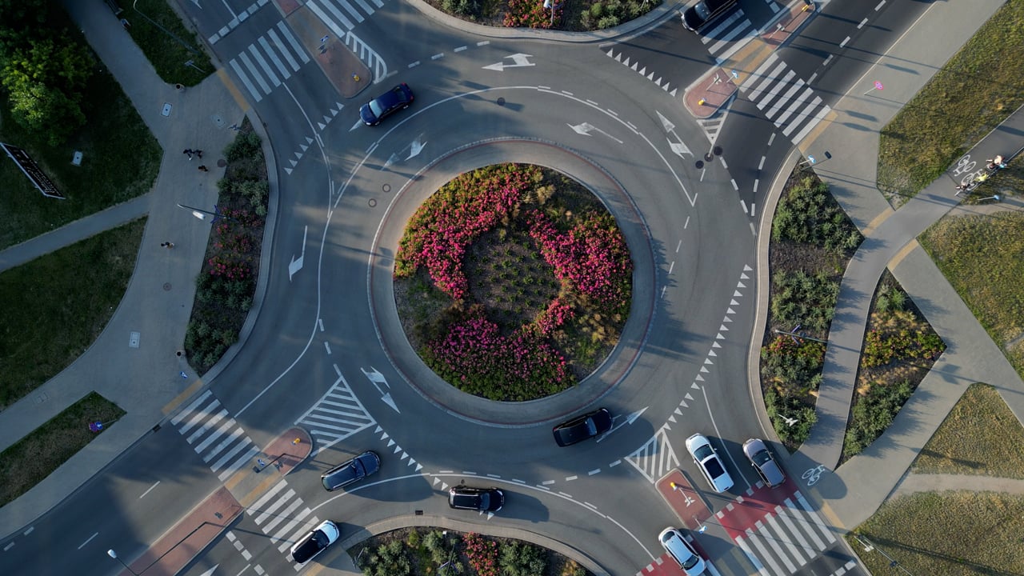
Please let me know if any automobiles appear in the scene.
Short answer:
Yes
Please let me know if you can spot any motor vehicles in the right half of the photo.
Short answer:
Yes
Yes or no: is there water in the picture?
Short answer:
No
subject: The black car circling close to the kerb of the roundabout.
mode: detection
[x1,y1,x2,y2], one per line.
[552,409,614,448]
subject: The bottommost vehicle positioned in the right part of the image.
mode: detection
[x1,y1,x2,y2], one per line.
[657,524,706,576]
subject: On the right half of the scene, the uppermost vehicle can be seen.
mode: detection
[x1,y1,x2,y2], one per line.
[683,0,743,30]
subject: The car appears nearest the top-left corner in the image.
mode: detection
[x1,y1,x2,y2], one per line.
[359,82,414,125]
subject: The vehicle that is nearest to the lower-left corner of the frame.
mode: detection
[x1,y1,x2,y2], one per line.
[290,521,342,566]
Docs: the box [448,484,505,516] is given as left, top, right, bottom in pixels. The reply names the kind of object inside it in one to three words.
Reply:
car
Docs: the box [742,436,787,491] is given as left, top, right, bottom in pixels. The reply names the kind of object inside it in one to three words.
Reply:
car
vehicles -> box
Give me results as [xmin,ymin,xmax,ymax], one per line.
[552,409,614,448]
[290,521,342,566]
[657,524,706,576]
[685,432,735,493]
[683,0,743,30]
[319,450,383,493]
[359,82,414,125]
[742,436,787,491]
[448,484,505,516]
